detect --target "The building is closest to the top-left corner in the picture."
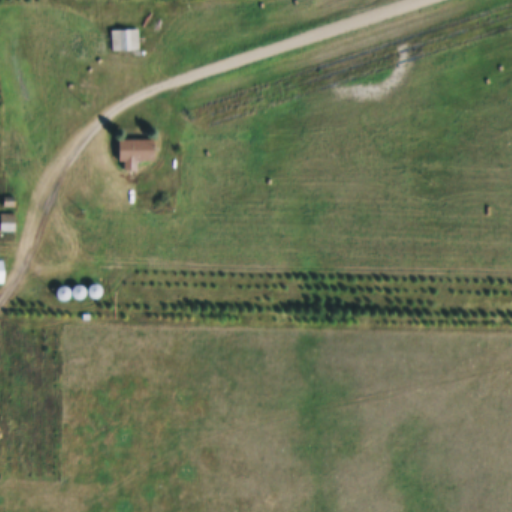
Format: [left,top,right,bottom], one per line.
[112,28,140,51]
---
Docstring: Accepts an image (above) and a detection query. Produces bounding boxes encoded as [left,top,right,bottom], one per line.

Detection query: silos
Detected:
[56,286,72,302]
[88,284,104,300]
[72,285,88,301]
